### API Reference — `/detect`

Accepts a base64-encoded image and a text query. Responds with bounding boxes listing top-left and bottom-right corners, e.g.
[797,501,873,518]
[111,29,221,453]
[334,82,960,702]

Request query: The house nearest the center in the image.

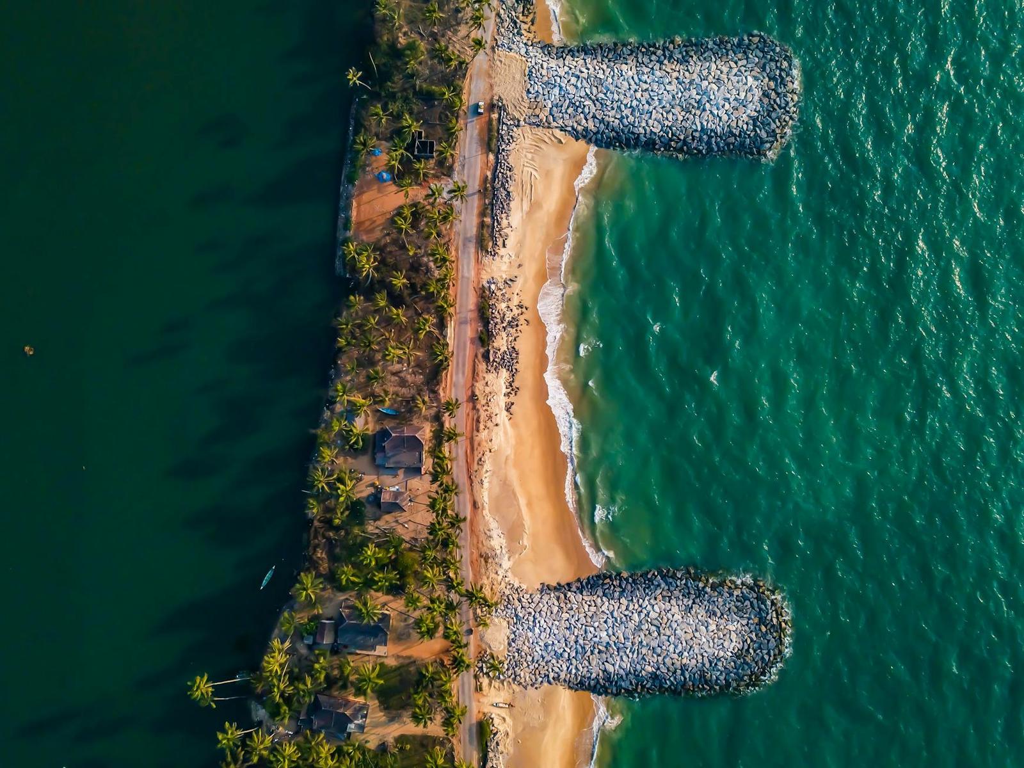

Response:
[376,425,425,476]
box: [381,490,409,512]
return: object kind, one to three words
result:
house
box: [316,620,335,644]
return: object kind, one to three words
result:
shed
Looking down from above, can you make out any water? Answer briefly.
Yes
